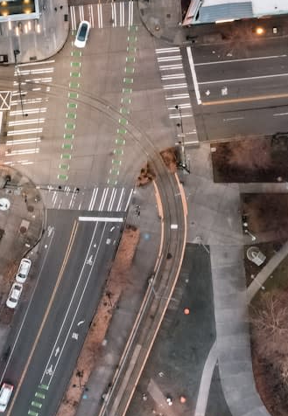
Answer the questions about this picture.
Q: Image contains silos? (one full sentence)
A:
No, no silo can be seen from above.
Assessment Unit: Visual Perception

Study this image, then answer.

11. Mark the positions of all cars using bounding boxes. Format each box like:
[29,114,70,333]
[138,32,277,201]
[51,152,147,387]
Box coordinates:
[6,281,23,309]
[16,256,31,284]
[0,382,12,413]
[75,18,90,47]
